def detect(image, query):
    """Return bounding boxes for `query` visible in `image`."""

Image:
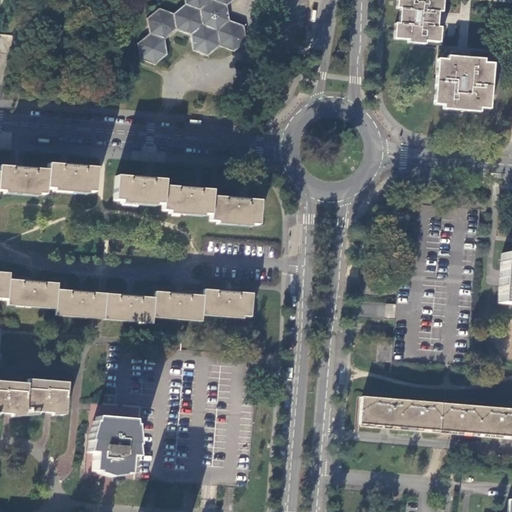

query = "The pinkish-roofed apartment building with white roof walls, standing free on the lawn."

[432,55,498,113]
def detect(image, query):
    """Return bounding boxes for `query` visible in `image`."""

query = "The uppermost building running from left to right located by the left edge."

[0,162,100,201]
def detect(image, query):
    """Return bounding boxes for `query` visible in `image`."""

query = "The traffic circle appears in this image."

[282,96,384,203]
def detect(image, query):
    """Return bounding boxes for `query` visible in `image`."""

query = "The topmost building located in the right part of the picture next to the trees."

[388,0,446,46]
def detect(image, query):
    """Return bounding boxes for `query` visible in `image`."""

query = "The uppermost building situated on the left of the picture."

[138,0,248,64]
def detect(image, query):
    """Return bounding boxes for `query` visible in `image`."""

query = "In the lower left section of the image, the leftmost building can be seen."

[0,378,71,420]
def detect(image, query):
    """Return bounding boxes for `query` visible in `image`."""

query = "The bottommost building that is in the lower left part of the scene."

[84,416,146,480]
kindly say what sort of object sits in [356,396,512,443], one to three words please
building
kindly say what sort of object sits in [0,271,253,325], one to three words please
building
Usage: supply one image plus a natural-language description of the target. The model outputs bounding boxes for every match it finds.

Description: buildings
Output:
[113,174,266,232]
[0,271,253,325]
[0,378,71,420]
[496,246,512,304]
[388,0,446,46]
[0,162,100,201]
[383,304,396,318]
[432,55,498,113]
[0,34,11,100]
[138,0,248,64]
[356,396,512,443]
[84,416,146,480]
